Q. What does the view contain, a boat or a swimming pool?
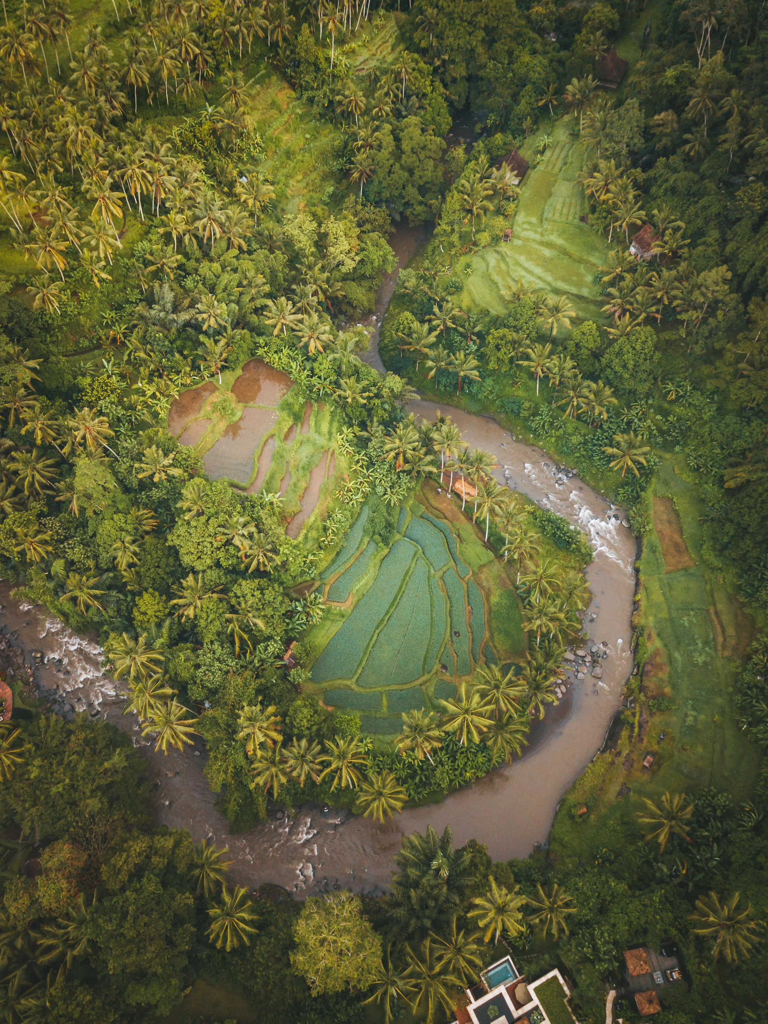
swimming pool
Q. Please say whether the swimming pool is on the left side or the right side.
right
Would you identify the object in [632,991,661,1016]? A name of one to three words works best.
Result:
building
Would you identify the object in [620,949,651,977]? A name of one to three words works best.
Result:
building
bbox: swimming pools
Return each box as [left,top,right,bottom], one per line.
[478,955,524,993]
